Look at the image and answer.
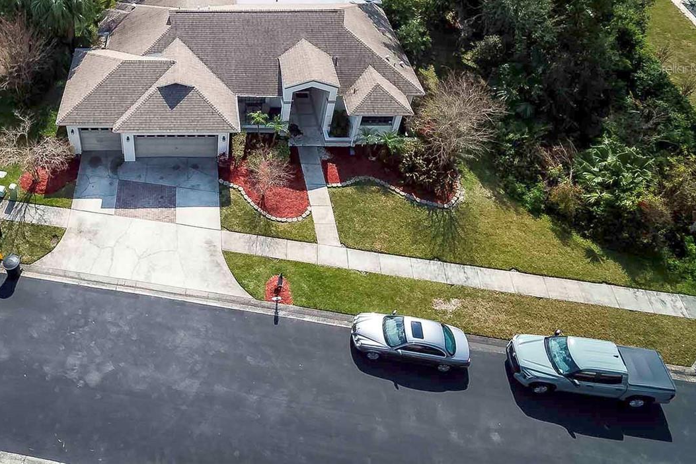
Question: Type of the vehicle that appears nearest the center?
automobile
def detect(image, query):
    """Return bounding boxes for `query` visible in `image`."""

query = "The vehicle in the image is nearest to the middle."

[351,312,474,374]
